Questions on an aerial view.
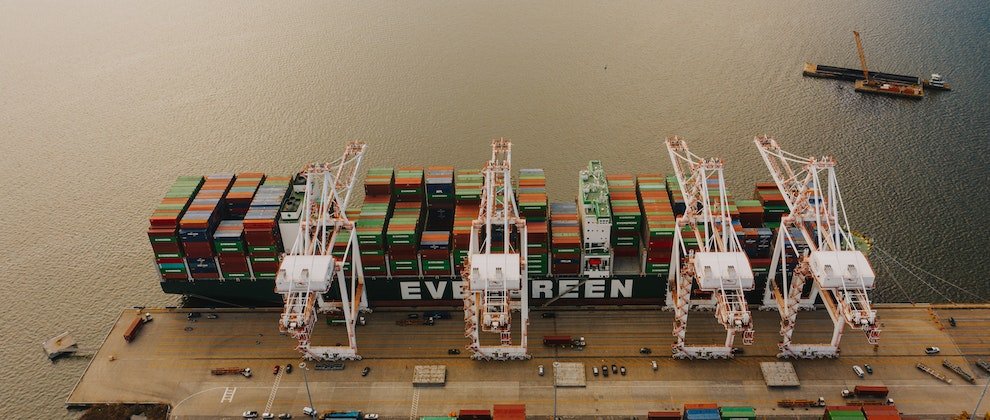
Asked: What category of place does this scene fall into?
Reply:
port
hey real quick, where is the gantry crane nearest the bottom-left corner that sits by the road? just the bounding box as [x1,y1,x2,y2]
[269,137,368,363]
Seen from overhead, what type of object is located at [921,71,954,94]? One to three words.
boat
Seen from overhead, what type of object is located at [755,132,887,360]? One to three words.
container crane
